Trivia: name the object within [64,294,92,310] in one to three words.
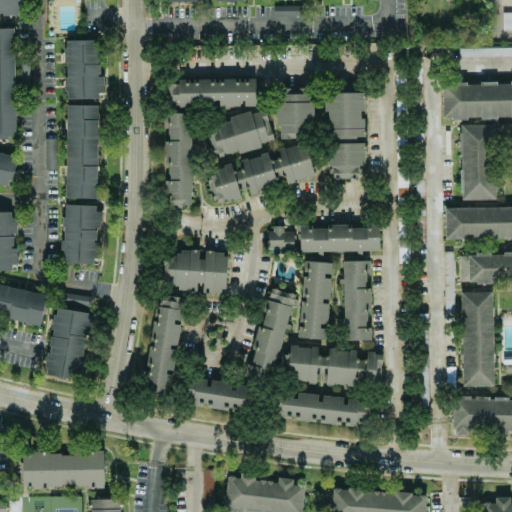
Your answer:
building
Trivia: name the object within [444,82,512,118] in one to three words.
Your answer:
building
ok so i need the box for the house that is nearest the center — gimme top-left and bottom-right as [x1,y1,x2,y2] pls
[268,226,296,252]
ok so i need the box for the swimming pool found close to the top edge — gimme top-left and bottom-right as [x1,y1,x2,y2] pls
[48,0,82,37]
